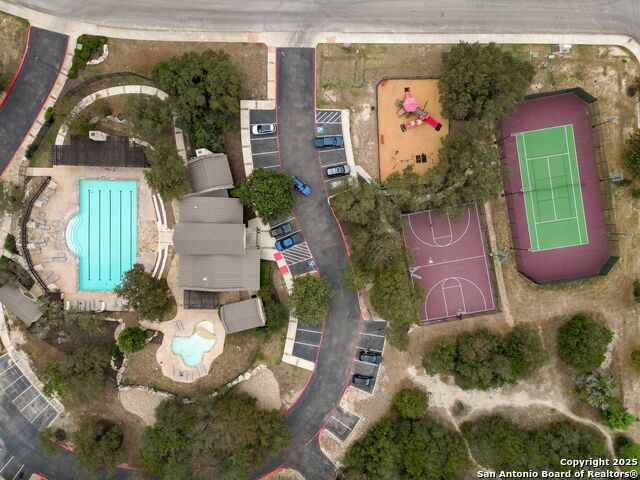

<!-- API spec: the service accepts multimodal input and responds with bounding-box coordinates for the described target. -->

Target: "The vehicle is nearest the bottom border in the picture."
[352,374,375,387]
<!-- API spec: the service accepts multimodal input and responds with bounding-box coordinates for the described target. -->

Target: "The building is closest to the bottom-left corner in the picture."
[0,282,46,328]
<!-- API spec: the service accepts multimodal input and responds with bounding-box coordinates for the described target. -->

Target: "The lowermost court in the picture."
[399,202,499,324]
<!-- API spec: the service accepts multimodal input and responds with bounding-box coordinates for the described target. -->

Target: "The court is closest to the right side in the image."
[499,92,611,283]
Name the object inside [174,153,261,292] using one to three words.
building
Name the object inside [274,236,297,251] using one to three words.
car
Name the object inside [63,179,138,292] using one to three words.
swimming pool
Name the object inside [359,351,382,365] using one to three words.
vehicle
